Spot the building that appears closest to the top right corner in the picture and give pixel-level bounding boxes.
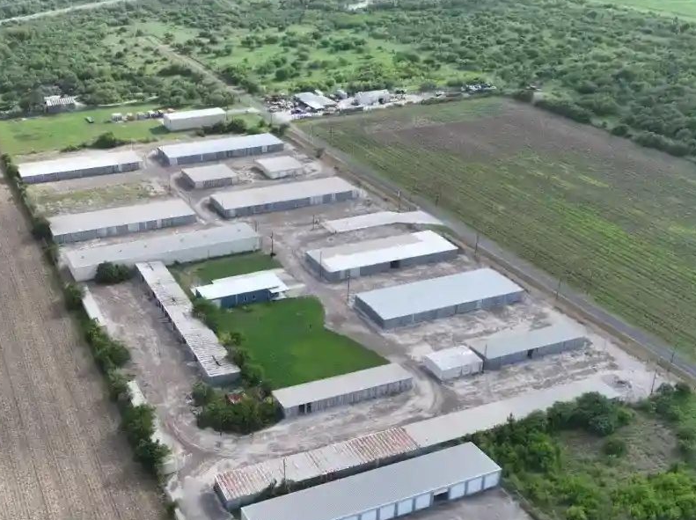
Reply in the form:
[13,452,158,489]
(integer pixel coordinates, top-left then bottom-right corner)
[349,89,391,103]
